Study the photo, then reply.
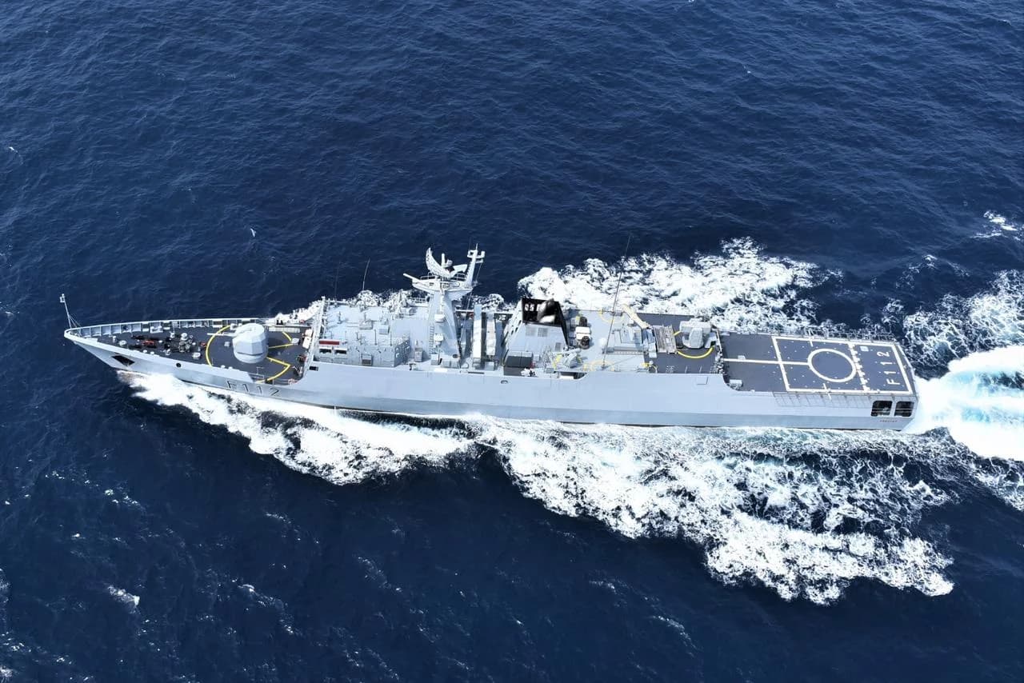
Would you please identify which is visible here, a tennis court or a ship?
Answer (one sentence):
Of the two, only a ship appears.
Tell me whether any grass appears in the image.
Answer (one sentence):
No, the scene doesn't show any grass.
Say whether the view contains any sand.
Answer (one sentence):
No, the scene doesn't show any sand.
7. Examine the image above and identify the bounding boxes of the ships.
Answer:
[60,234,918,428]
